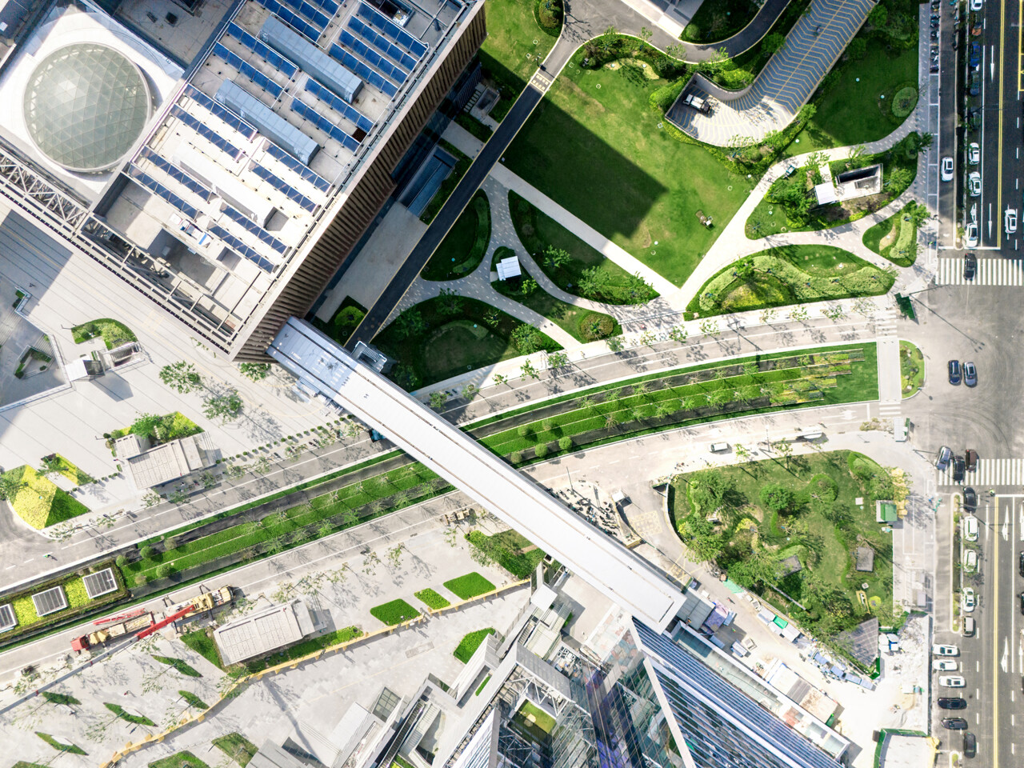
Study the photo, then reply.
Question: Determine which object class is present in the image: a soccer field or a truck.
truck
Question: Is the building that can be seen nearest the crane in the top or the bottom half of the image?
bottom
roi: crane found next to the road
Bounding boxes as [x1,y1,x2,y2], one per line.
[0,576,234,717]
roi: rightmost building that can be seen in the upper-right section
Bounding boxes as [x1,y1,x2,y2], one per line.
[811,162,882,208]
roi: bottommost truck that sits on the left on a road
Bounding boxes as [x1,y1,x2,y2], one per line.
[56,611,147,654]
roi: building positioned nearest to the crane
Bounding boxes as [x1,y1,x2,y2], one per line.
[213,599,326,666]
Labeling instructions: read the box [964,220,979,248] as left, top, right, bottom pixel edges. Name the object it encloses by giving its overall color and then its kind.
white car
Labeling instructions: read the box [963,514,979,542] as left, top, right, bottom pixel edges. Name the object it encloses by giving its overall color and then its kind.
white car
